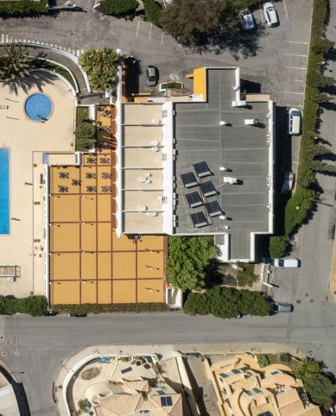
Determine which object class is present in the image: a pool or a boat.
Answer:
pool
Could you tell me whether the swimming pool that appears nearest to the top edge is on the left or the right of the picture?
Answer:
left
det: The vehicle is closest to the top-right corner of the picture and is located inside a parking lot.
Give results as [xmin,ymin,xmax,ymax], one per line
[261,2,278,27]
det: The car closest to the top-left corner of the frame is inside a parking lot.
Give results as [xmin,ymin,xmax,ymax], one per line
[145,64,157,88]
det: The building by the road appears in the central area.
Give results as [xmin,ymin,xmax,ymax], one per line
[110,67,274,261]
